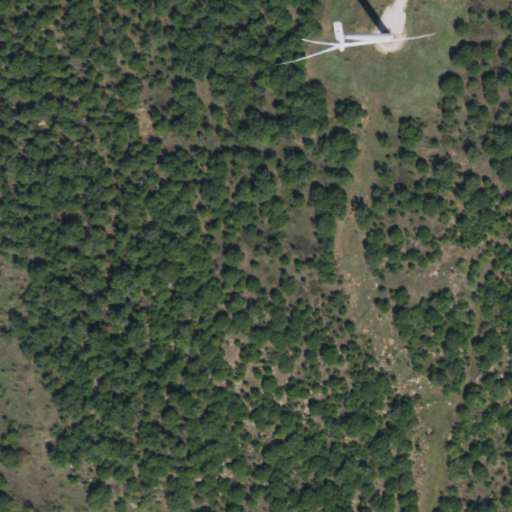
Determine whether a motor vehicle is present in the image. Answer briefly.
No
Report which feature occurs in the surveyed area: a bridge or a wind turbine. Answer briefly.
wind turbine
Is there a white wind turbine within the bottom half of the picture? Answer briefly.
No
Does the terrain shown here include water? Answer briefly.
No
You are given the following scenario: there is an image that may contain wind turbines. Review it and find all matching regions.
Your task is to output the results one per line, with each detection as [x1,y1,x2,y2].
[280,20,436,64]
